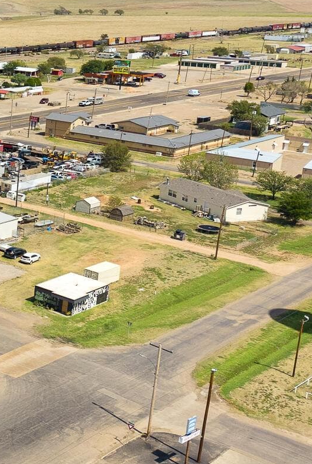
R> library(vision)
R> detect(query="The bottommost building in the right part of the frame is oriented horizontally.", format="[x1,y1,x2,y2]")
[158,178,271,222]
